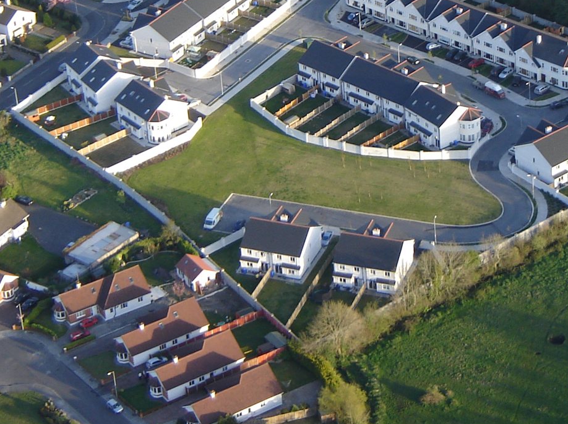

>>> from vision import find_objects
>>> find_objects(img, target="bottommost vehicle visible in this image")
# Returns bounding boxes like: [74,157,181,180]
[103,395,125,411]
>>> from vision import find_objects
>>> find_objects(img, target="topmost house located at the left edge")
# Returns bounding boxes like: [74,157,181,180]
[0,0,38,45]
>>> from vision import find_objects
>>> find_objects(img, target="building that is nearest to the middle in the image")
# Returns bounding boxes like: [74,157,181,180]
[238,205,322,282]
